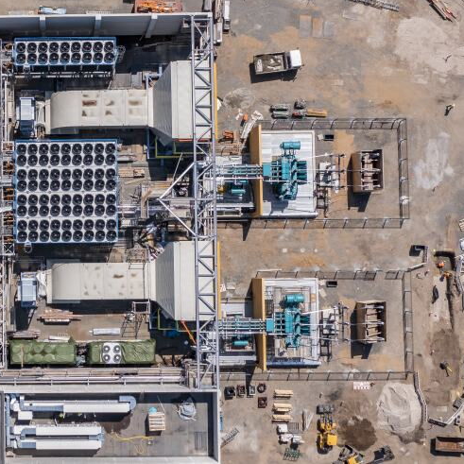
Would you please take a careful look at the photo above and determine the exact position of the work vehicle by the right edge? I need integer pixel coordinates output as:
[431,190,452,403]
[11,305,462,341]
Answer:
[435,259,450,275]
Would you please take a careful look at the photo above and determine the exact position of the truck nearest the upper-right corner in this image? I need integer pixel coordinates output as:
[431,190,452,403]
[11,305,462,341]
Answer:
[249,52,303,77]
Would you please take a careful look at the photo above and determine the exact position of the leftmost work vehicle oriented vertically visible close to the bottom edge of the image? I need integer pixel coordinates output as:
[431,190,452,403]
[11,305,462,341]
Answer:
[316,404,340,453]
